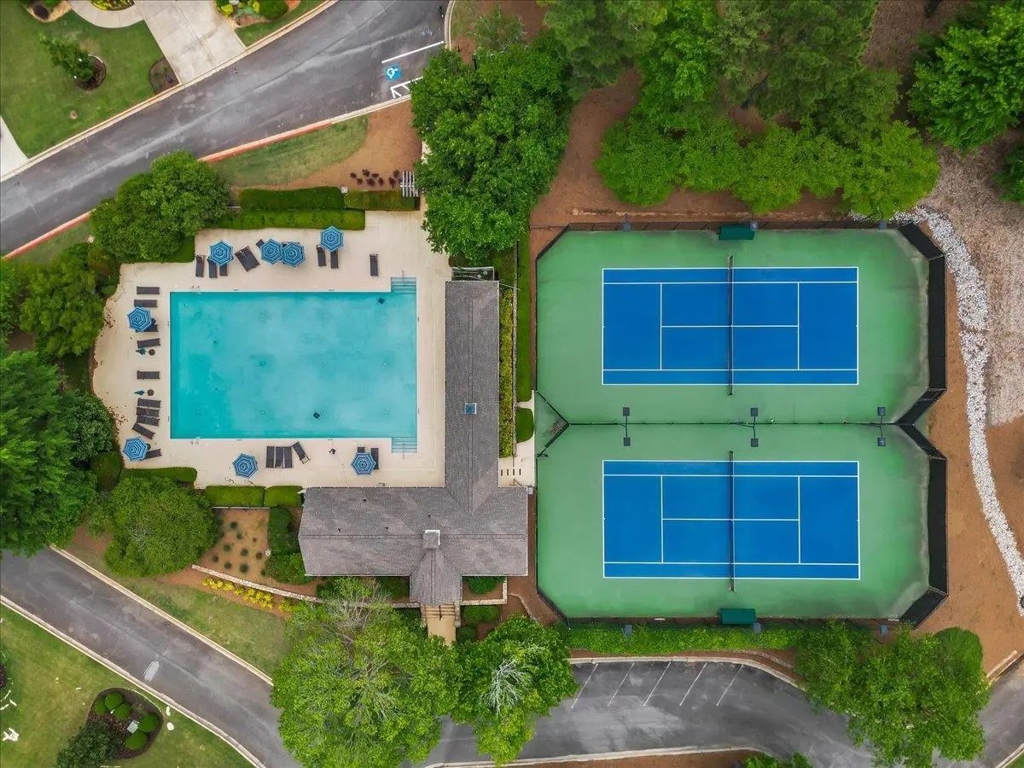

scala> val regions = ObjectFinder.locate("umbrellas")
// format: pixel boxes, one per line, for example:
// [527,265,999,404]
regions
[282,241,306,266]
[124,436,151,461]
[138,389,156,397]
[259,239,282,264]
[234,453,258,478]
[351,452,377,475]
[130,307,155,333]
[321,227,344,252]
[139,347,157,356]
[210,240,233,266]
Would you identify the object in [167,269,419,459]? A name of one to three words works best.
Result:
swimming pool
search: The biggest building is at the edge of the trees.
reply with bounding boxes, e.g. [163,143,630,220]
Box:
[296,280,529,607]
